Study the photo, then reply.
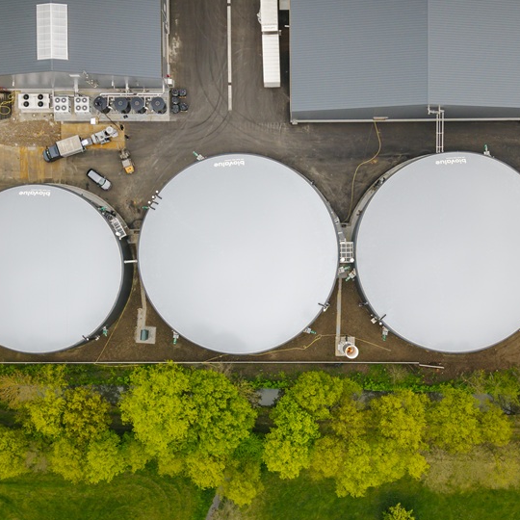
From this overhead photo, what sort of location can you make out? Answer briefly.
industrial area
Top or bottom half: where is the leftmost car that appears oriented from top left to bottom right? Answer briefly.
top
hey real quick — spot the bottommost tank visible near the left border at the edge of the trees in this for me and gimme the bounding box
[0,183,139,355]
